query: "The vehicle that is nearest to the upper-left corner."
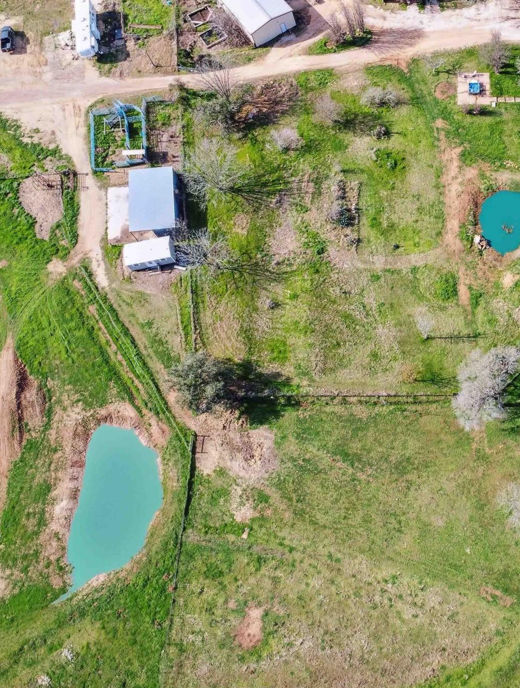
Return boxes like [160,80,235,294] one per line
[0,25,16,54]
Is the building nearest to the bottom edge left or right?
left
